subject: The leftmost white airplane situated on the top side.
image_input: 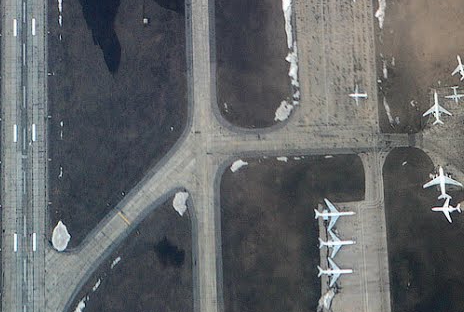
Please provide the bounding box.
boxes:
[349,84,367,106]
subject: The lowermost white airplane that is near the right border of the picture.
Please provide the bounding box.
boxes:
[432,198,463,221]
